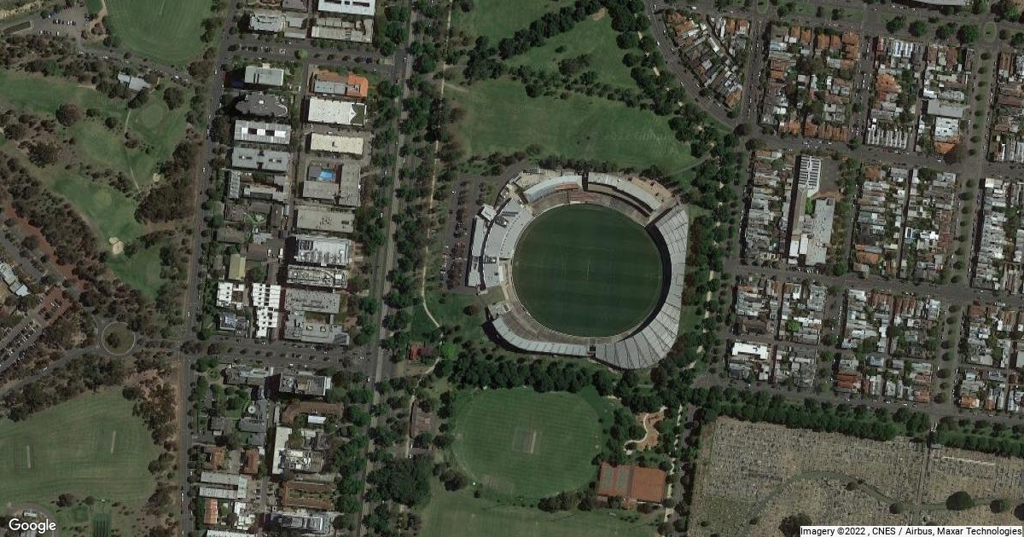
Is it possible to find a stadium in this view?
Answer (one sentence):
Yes, there's a stadium here.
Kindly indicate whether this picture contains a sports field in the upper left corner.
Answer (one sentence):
Yes, you'll find a sports field in the upper left corner.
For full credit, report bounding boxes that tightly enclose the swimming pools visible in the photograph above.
[307,164,339,182]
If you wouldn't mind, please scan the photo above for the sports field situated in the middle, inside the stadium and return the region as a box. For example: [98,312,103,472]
[512,204,664,337]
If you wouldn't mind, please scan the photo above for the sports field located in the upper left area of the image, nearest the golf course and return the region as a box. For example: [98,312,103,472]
[105,0,212,65]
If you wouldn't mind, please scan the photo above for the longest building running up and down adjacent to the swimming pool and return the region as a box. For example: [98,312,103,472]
[339,165,360,206]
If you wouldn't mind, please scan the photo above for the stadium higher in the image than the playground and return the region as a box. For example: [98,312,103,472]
[468,167,691,372]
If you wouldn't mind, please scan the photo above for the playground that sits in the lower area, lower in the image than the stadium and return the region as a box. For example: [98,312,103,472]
[624,409,664,452]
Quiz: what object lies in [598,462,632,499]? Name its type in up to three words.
tennis court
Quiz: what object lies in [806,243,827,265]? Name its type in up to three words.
building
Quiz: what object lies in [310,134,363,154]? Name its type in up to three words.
building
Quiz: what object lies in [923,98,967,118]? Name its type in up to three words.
house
